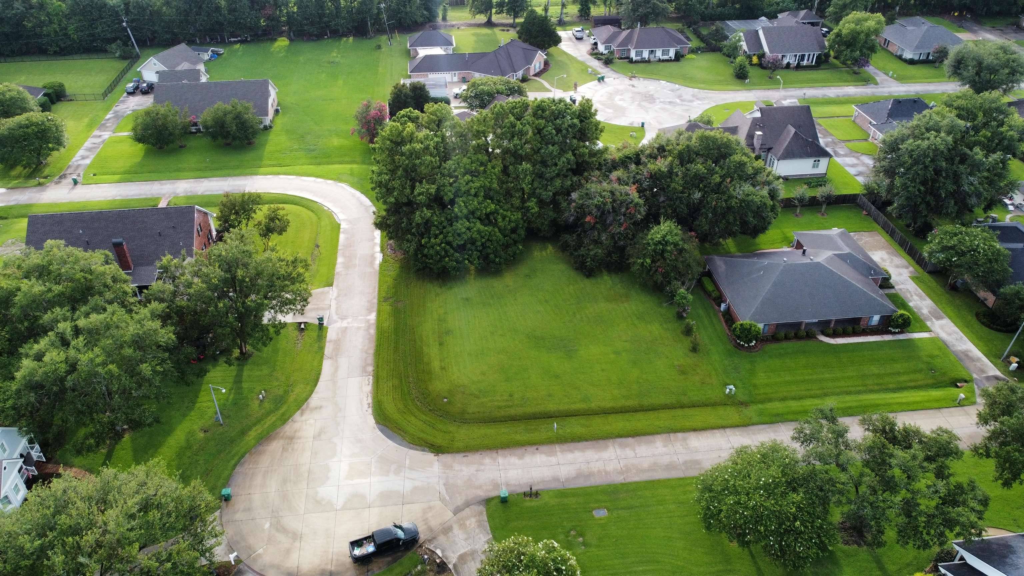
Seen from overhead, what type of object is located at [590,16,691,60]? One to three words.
house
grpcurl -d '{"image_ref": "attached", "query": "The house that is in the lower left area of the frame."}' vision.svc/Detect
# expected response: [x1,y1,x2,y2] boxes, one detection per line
[0,434,68,524]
